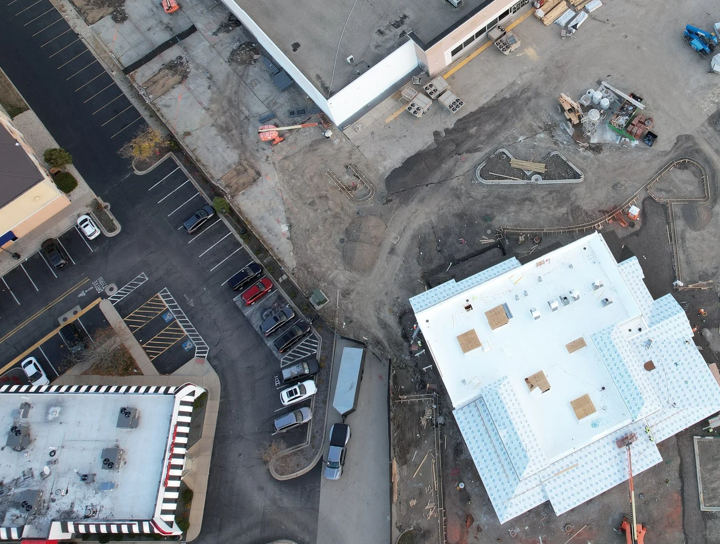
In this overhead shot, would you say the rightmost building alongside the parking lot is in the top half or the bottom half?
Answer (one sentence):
You can find the rightmost building alongside the parking lot in the bottom half.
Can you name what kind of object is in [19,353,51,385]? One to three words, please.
car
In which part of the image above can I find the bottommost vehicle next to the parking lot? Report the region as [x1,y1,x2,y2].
[325,426,349,478]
